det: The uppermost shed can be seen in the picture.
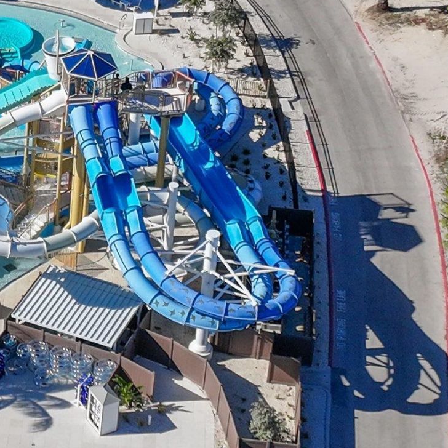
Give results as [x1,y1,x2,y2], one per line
[10,263,143,378]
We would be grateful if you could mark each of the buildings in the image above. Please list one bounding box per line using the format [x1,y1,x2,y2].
[10,263,143,378]
[87,381,121,436]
